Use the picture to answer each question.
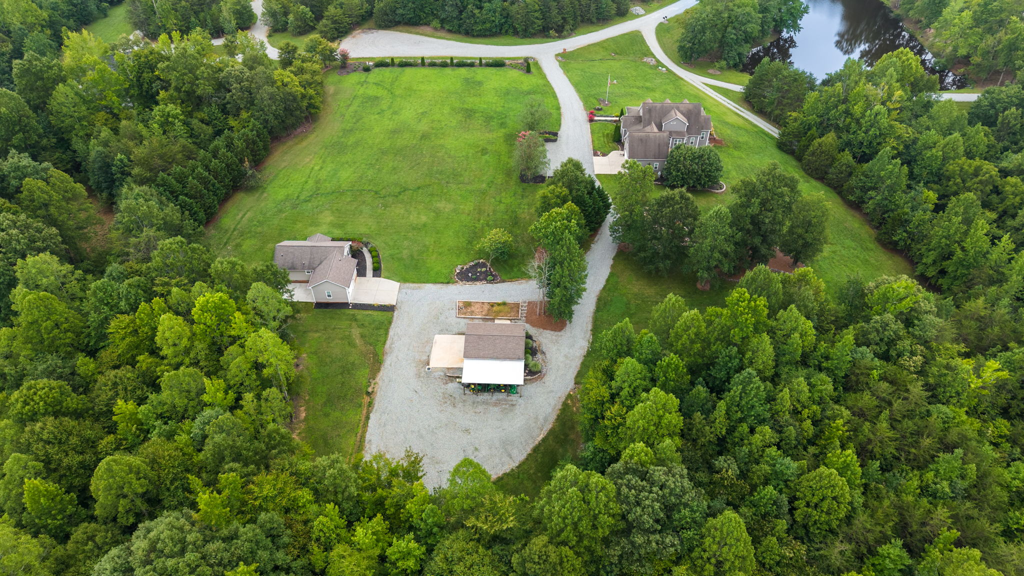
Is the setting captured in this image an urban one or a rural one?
rural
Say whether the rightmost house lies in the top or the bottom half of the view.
top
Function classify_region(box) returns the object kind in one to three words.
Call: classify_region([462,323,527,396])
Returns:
shed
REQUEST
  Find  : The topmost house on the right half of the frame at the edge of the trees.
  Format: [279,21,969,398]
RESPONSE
[619,95,723,173]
